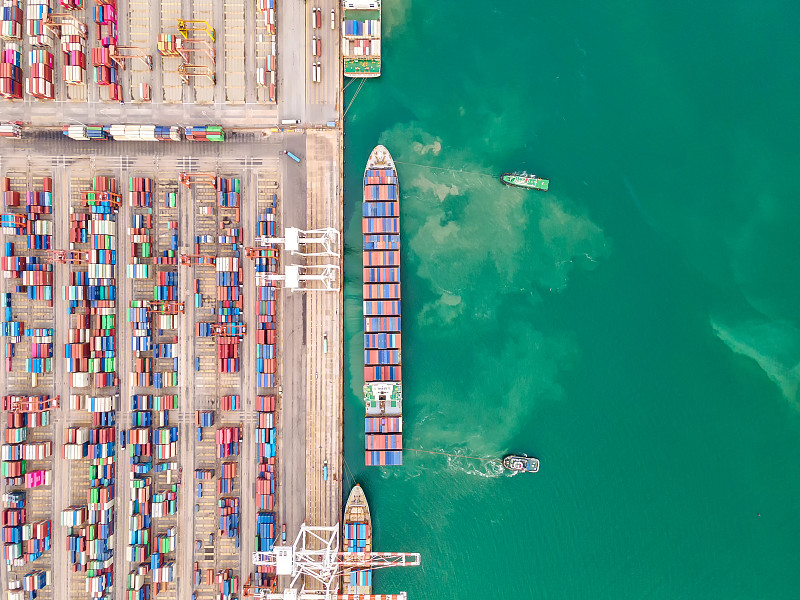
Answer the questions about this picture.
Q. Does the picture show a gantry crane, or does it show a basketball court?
gantry crane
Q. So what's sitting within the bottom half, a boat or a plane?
boat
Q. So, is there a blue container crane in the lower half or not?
No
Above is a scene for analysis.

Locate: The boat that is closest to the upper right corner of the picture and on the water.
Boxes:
[501,172,552,191]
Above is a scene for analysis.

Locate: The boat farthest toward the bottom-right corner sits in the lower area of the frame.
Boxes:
[503,455,541,474]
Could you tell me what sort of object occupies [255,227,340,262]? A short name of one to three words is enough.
container crane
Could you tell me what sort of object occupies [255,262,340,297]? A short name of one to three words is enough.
container crane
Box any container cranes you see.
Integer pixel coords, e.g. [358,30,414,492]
[78,191,123,208]
[10,395,60,412]
[255,262,340,297]
[210,321,248,336]
[255,557,399,600]
[255,227,340,262]
[178,173,216,191]
[42,13,88,40]
[108,46,152,71]
[176,65,216,88]
[251,516,420,588]
[178,255,216,270]
[146,300,186,314]
[175,39,216,64]
[242,571,278,596]
[45,250,90,265]
[176,20,216,45]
